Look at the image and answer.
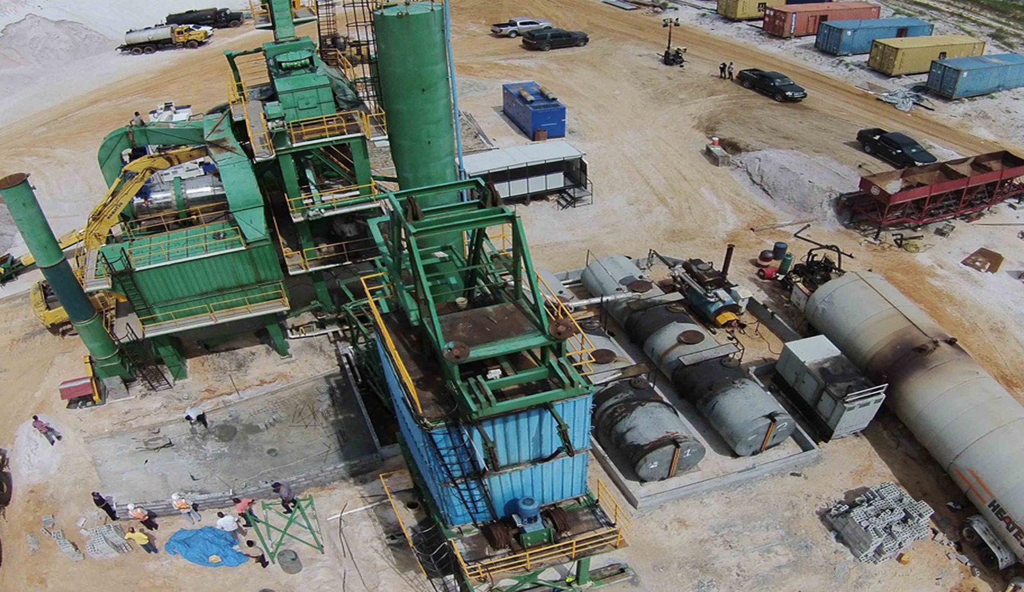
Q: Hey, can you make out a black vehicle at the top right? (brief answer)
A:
Yes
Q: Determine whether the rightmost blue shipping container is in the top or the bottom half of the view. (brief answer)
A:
top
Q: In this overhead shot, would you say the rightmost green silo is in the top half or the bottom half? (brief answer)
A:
top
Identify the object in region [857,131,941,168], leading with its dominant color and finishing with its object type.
black truck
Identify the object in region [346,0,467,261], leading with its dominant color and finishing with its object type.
green silo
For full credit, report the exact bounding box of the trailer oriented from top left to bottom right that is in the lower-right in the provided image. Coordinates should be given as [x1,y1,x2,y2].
[806,270,1024,592]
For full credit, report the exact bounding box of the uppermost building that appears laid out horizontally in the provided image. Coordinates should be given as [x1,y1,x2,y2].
[456,136,597,204]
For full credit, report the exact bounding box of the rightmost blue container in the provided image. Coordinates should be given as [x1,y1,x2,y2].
[927,43,1024,99]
